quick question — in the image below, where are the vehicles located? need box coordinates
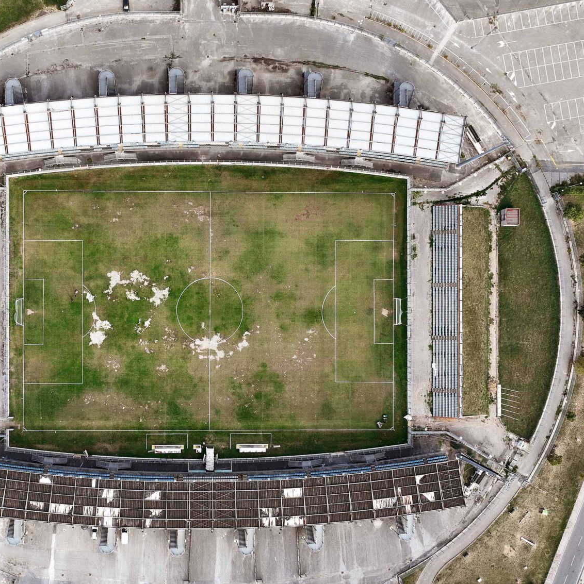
[91,527,98,541]
[122,0,129,11]
[120,529,128,546]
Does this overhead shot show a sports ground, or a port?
sports ground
